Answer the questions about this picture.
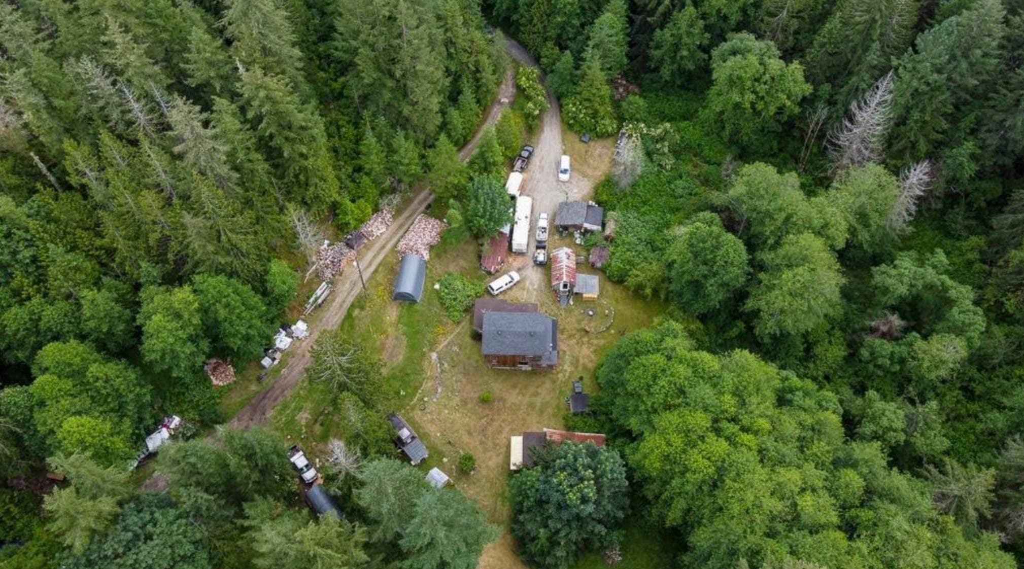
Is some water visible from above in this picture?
No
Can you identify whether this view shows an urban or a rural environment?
rural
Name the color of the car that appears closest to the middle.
white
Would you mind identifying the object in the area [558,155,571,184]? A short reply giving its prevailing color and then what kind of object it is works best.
white vehicle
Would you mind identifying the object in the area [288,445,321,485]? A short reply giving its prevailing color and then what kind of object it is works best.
white truck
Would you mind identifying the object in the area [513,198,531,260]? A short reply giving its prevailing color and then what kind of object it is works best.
white trailer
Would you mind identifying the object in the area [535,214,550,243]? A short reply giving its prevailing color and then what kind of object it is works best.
white vehicle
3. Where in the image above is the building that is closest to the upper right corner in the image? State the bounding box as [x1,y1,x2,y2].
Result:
[556,202,603,234]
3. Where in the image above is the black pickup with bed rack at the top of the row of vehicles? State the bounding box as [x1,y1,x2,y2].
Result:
[514,146,535,173]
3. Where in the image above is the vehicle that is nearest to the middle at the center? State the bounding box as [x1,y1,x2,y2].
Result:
[487,272,522,298]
